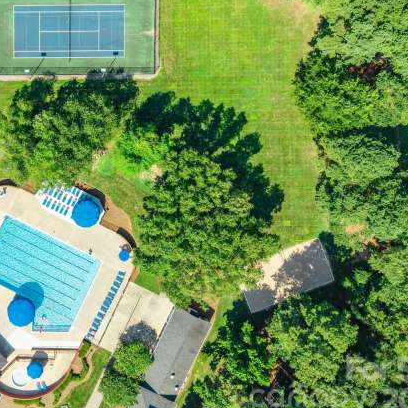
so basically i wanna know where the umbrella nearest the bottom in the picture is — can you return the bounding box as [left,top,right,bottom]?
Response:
[27,360,44,377]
